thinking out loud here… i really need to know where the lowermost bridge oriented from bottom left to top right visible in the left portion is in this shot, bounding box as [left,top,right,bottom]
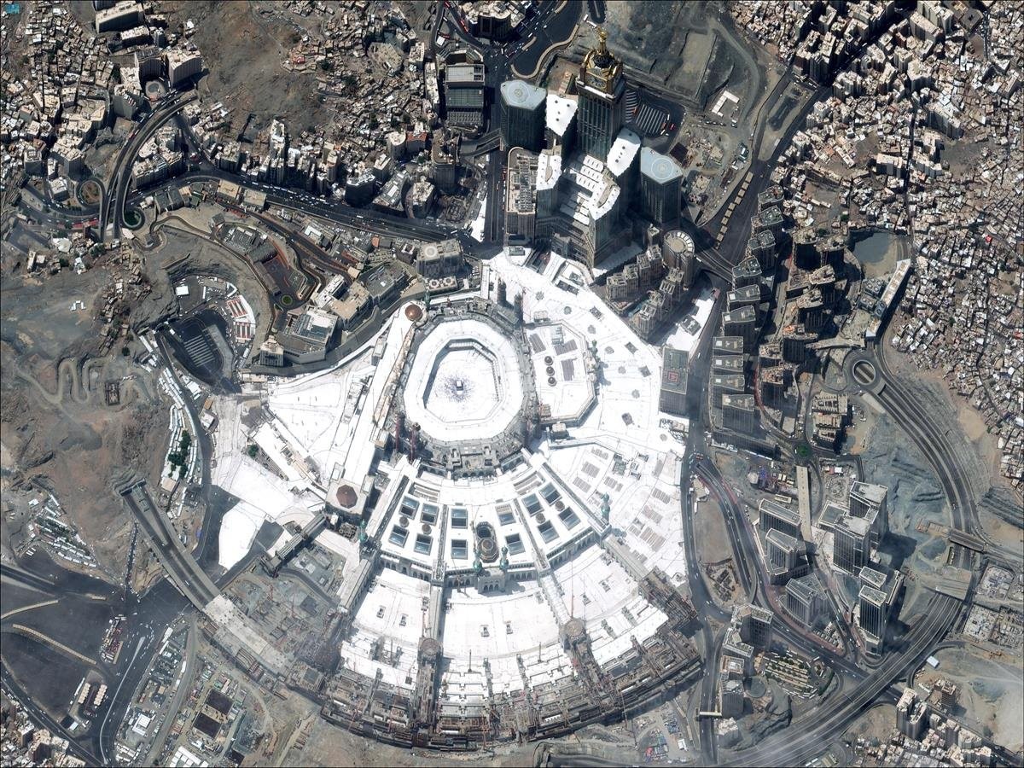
[261,514,326,576]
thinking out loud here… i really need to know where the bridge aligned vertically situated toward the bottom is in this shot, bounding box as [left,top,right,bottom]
[796,464,814,542]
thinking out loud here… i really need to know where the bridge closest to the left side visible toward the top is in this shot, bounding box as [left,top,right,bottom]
[97,88,196,242]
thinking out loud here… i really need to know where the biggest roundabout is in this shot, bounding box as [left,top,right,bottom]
[843,353,886,392]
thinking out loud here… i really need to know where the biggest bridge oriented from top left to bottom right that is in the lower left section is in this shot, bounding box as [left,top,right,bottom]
[201,592,297,674]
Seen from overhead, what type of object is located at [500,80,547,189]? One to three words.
building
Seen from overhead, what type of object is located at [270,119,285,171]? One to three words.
building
